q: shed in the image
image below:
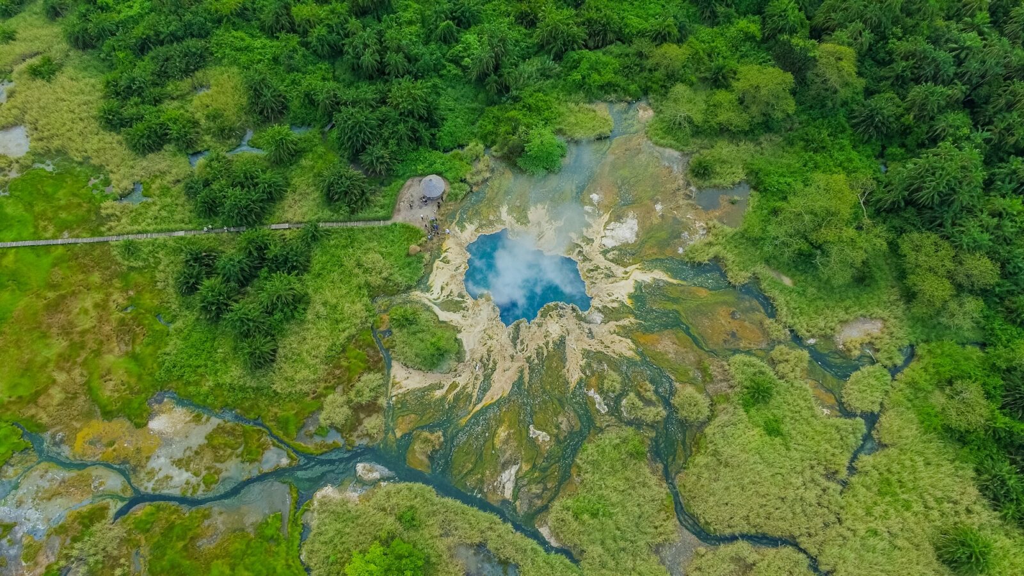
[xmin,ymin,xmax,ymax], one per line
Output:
[420,177,445,202]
